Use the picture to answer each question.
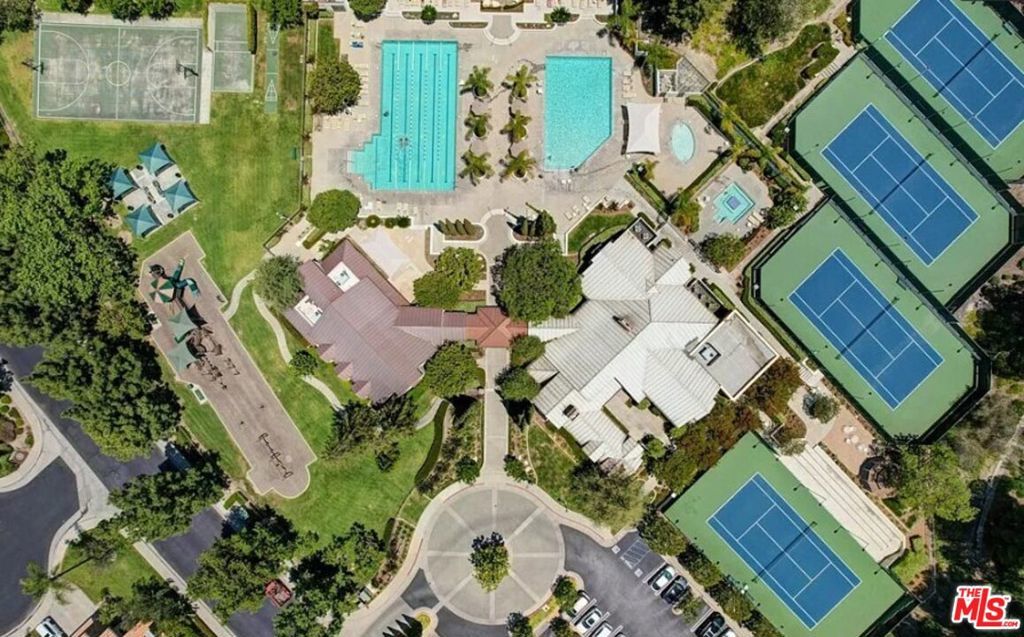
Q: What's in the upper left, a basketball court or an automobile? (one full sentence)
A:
It is a basketball court that can be seen in the upper left.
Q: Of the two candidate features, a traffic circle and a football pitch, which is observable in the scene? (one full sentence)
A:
I can see a traffic circle in this picture.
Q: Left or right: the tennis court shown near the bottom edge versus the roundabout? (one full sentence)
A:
In the image, the tennis court shown near the bottom edge sits on the right side of the roundabout.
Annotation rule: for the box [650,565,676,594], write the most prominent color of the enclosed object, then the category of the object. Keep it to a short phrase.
white car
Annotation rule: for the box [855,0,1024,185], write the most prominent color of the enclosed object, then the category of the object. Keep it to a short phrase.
blue tennis court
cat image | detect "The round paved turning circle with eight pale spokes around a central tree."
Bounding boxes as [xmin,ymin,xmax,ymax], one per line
[422,483,566,625]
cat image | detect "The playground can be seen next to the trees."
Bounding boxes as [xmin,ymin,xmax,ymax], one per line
[136,231,317,499]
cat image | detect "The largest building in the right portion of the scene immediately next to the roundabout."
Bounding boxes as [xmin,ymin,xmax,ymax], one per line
[528,230,720,476]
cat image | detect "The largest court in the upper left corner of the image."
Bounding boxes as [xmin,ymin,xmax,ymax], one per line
[35,23,201,123]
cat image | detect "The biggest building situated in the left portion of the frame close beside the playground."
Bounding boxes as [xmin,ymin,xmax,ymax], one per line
[282,238,436,405]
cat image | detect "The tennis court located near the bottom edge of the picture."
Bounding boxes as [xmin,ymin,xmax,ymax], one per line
[671,438,905,637]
